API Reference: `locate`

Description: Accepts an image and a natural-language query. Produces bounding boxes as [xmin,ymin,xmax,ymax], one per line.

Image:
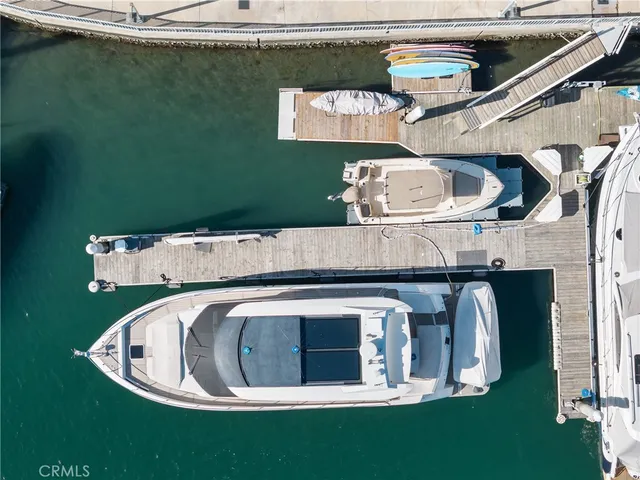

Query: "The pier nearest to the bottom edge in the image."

[93,84,640,421]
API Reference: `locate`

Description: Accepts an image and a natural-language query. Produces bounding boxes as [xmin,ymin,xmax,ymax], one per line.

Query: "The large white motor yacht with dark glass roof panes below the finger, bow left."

[71,282,491,411]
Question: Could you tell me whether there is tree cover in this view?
No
